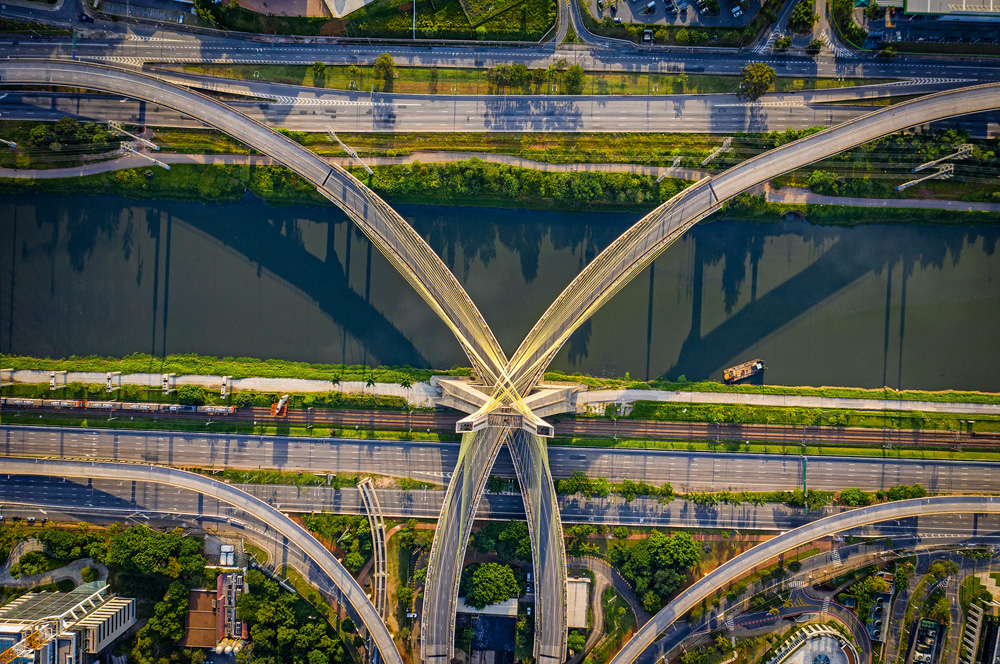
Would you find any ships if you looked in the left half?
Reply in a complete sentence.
No, there is no ship in the left half.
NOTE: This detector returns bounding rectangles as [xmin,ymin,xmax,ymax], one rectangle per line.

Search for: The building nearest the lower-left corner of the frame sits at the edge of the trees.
[0,574,135,664]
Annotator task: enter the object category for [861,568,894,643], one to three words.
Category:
house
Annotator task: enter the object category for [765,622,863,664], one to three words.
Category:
building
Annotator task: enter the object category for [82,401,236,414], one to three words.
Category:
train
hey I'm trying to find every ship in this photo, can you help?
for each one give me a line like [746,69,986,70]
[726,356,765,382]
